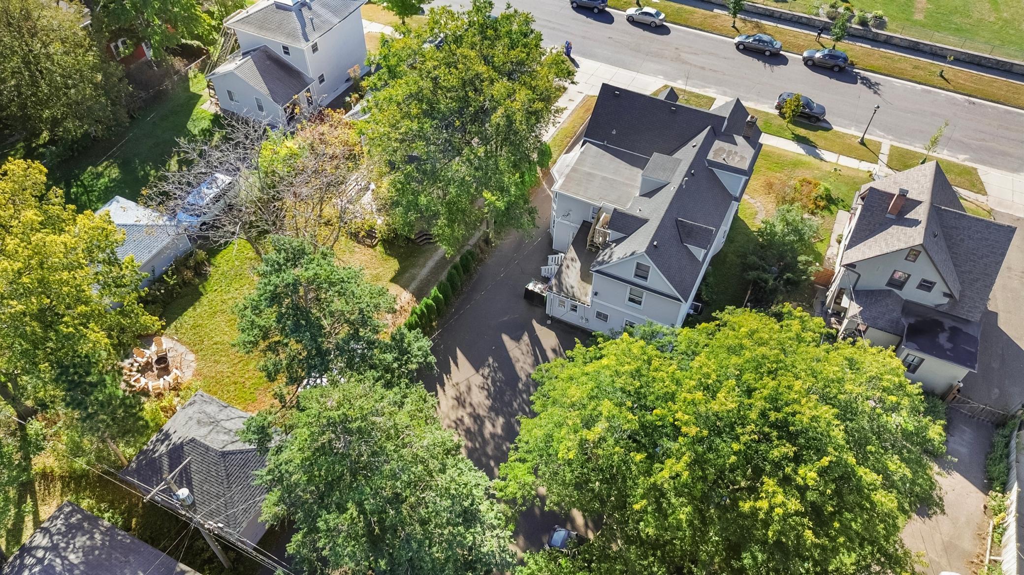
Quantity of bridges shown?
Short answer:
0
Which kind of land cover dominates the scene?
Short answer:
trees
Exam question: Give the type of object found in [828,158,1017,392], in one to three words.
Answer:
house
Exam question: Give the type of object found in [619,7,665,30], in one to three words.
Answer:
car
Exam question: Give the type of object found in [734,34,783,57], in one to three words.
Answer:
car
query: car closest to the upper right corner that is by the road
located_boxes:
[801,48,853,74]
